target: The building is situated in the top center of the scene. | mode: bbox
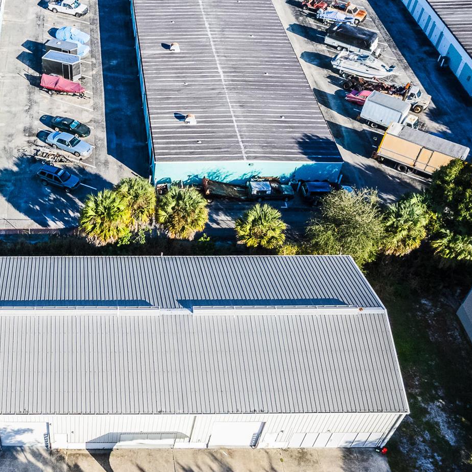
[130,0,346,185]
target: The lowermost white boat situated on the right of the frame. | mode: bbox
[326,50,398,83]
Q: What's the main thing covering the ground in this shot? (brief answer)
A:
buildings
